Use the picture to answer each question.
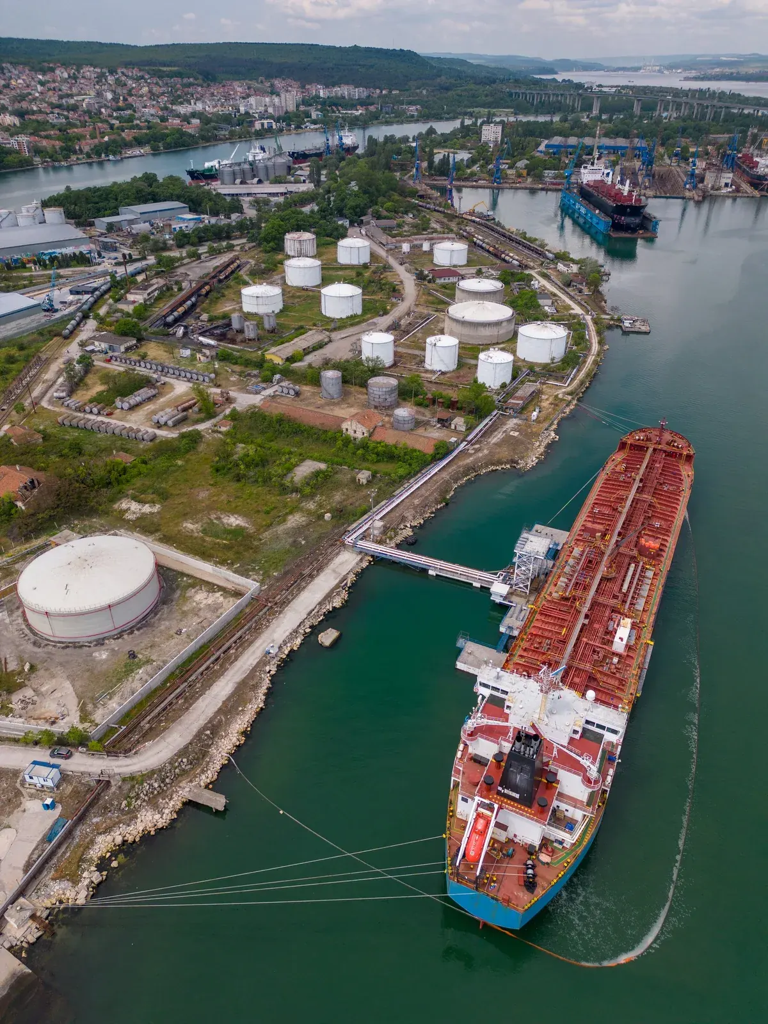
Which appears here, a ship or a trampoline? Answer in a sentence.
Looking from above, you can make out a ship.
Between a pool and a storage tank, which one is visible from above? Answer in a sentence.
Visible in the photo is a storage tank.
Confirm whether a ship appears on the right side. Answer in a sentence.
Yes, a ship is visible on the right side.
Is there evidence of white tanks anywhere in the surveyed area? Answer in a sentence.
Yes, a white tank appears in the view.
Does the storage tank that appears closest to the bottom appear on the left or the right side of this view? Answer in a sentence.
The storage tank that appears closest to the bottom is on the left side of the image.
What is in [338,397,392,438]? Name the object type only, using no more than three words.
house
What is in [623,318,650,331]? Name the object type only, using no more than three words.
ship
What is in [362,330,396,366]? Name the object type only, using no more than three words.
storage tank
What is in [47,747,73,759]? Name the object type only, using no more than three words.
vehicle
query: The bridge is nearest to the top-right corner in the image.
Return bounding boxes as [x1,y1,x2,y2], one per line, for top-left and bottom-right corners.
[493,90,768,134]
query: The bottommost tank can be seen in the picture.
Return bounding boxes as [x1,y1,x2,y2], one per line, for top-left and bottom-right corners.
[16,529,170,645]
